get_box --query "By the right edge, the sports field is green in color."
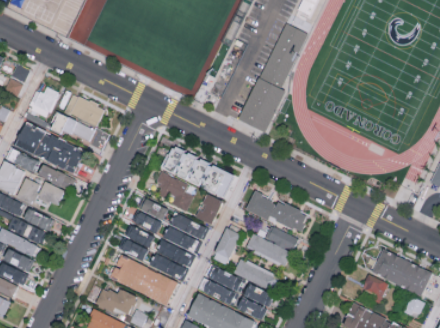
[306,0,440,154]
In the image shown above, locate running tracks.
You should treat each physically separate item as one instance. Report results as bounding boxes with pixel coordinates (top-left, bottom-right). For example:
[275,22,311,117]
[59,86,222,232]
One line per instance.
[290,0,440,184]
